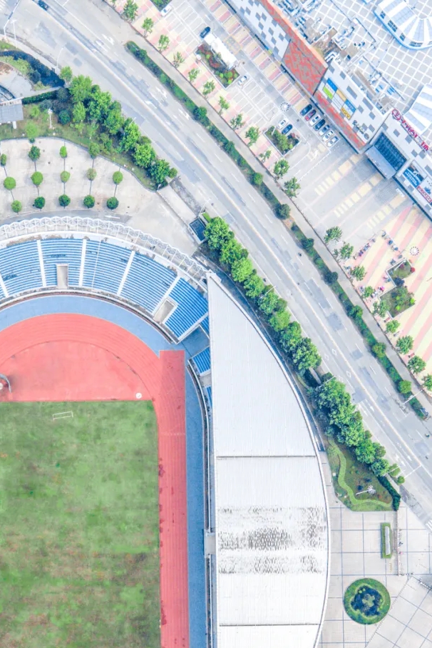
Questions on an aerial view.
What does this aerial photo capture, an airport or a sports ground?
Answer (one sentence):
The area seen from above is a sports ground.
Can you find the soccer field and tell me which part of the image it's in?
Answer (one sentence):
The soccer field sits in the bottom left section of the image.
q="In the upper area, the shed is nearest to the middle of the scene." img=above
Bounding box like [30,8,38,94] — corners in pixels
[188,216,208,244]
